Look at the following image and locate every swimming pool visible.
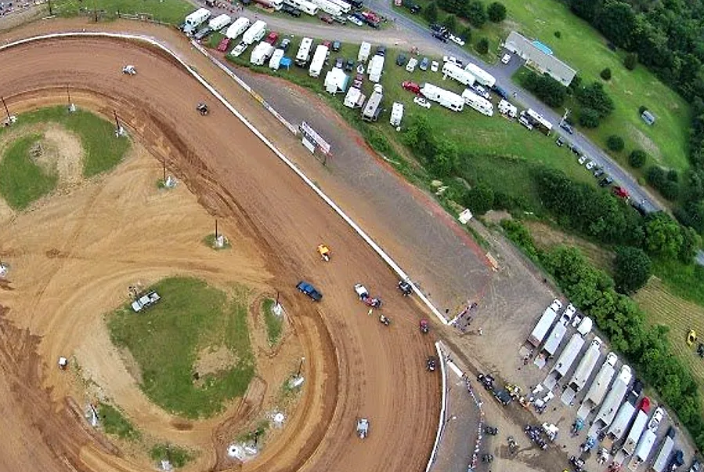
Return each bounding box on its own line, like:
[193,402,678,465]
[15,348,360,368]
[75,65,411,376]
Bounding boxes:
[532,37,556,54]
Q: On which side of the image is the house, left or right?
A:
right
